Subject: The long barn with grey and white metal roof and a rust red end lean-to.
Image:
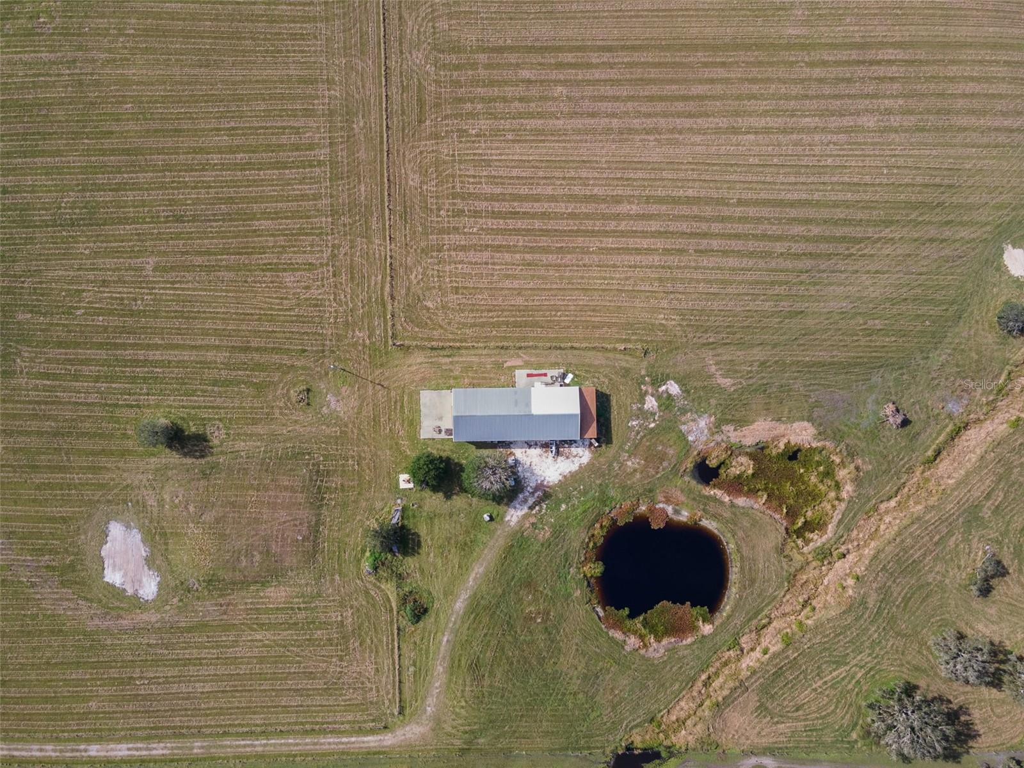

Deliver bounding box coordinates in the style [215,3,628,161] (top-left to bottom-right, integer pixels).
[451,382,597,442]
